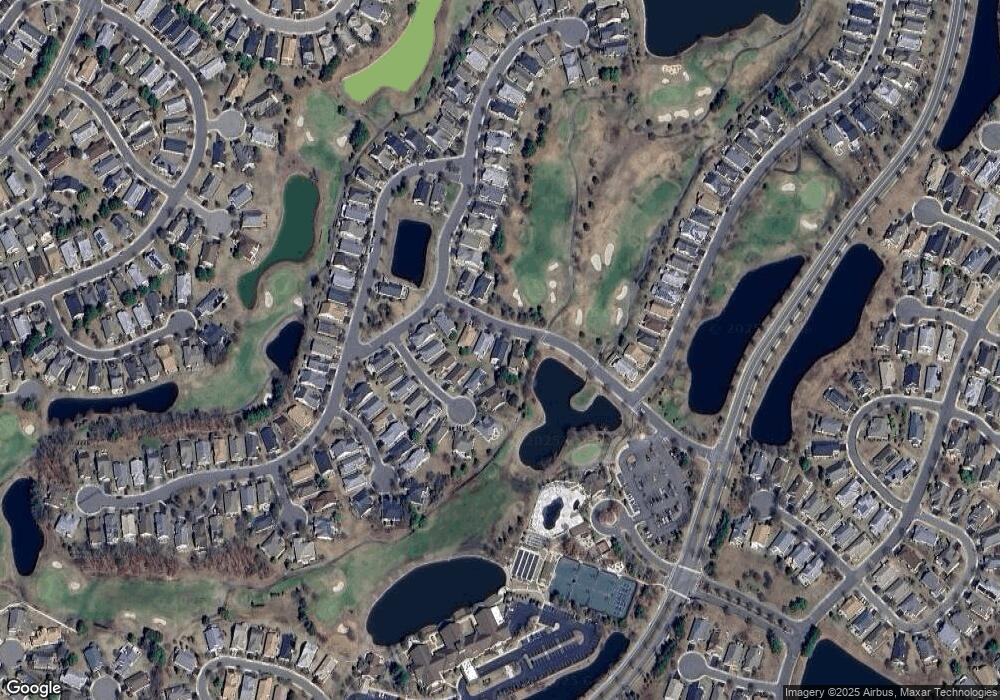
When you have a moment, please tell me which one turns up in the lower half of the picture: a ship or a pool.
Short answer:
pool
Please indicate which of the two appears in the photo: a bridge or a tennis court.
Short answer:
tennis court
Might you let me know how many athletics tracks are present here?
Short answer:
0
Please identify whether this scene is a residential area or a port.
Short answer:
residential area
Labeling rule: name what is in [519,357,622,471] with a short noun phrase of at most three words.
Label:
pond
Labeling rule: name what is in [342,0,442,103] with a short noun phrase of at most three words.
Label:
pond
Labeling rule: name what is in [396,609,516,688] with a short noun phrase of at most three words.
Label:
building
